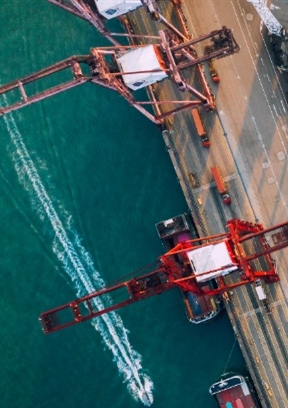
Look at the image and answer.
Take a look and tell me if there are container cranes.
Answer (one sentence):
Yes, looking at the shot, I can spot a container crane.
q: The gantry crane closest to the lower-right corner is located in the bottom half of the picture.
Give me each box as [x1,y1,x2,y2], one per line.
[35,219,288,338]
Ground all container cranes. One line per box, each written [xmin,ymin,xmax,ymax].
[35,219,288,338]
[25,0,198,52]
[0,20,250,134]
